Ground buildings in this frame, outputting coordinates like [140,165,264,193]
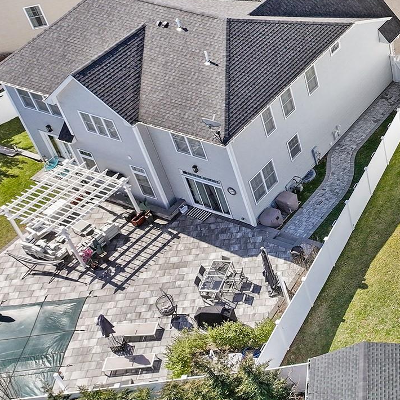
[305,330,400,400]
[0,0,400,225]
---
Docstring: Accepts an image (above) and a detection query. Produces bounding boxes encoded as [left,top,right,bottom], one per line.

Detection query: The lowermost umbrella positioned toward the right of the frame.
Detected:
[258,248,282,295]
